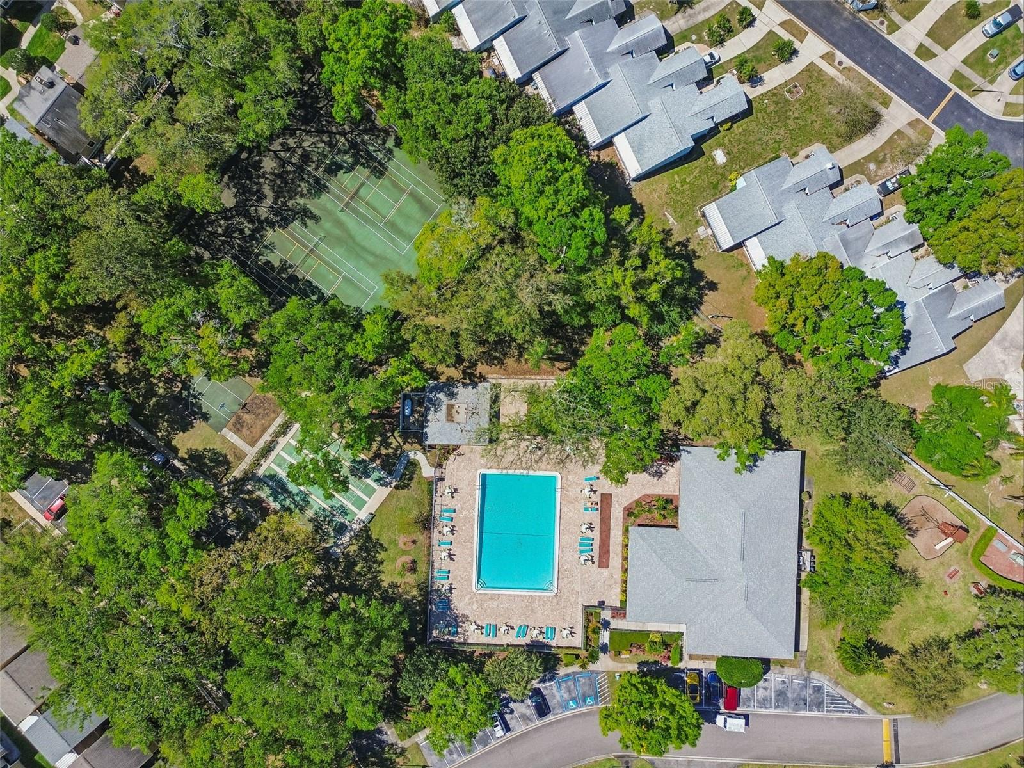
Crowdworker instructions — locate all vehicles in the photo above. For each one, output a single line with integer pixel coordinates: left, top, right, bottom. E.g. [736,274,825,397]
[686,671,701,702]
[875,166,914,196]
[42,493,70,523]
[488,707,509,740]
[724,686,739,713]
[531,685,549,719]
[983,4,1024,37]
[1008,59,1024,79]
[706,670,721,703]
[715,713,748,734]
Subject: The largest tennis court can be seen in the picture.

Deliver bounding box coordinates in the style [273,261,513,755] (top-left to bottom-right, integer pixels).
[177,62,486,362]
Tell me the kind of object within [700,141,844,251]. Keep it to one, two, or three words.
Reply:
house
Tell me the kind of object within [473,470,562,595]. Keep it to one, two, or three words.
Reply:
swimming pool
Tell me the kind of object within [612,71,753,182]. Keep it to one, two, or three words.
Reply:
house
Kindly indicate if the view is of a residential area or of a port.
residential area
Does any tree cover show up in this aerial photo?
Yes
